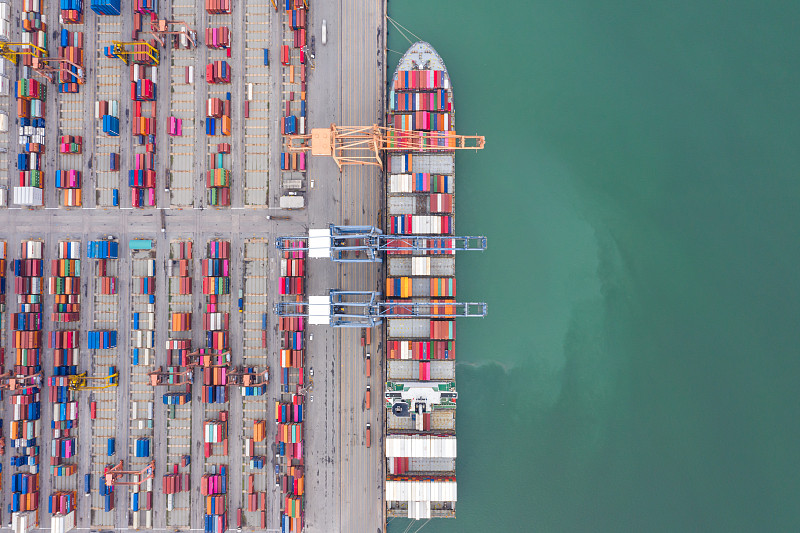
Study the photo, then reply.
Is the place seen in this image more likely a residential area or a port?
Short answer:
port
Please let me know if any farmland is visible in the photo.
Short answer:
No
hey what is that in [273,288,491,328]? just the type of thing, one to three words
container crane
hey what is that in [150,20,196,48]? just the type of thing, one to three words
container crane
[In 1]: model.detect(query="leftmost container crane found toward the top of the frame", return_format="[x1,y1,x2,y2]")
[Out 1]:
[0,40,48,65]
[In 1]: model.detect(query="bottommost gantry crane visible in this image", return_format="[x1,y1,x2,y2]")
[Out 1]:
[106,462,154,487]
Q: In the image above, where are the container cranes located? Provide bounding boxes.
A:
[150,20,196,48]
[0,40,48,65]
[32,57,84,82]
[227,368,270,388]
[188,349,231,369]
[112,40,159,65]
[148,368,194,388]
[0,372,43,393]
[69,371,119,392]
[273,288,491,328]
[274,126,489,175]
[273,224,491,264]
[106,462,154,487]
